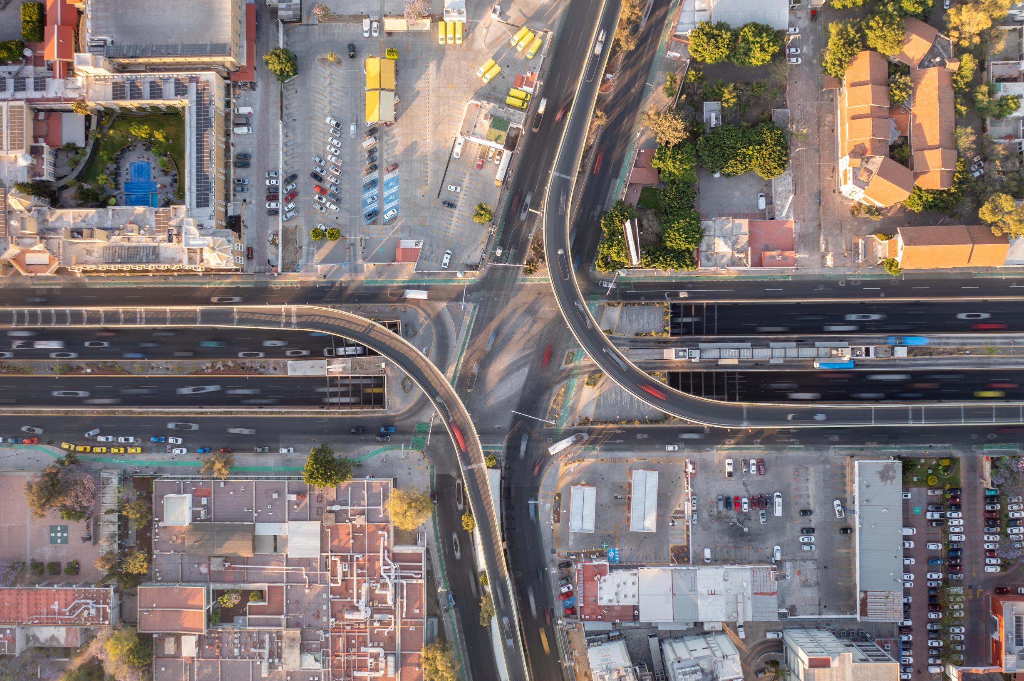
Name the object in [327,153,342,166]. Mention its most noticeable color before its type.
white vehicle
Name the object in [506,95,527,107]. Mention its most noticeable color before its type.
yellow vehicle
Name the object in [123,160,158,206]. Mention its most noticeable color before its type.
blue swimming pool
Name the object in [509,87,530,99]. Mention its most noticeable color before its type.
yellow vehicle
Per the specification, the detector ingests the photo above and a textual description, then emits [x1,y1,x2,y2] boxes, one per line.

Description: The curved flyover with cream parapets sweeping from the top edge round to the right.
[544,0,1024,428]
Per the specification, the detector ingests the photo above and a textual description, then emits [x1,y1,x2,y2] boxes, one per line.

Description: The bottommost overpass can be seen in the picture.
[0,306,528,681]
